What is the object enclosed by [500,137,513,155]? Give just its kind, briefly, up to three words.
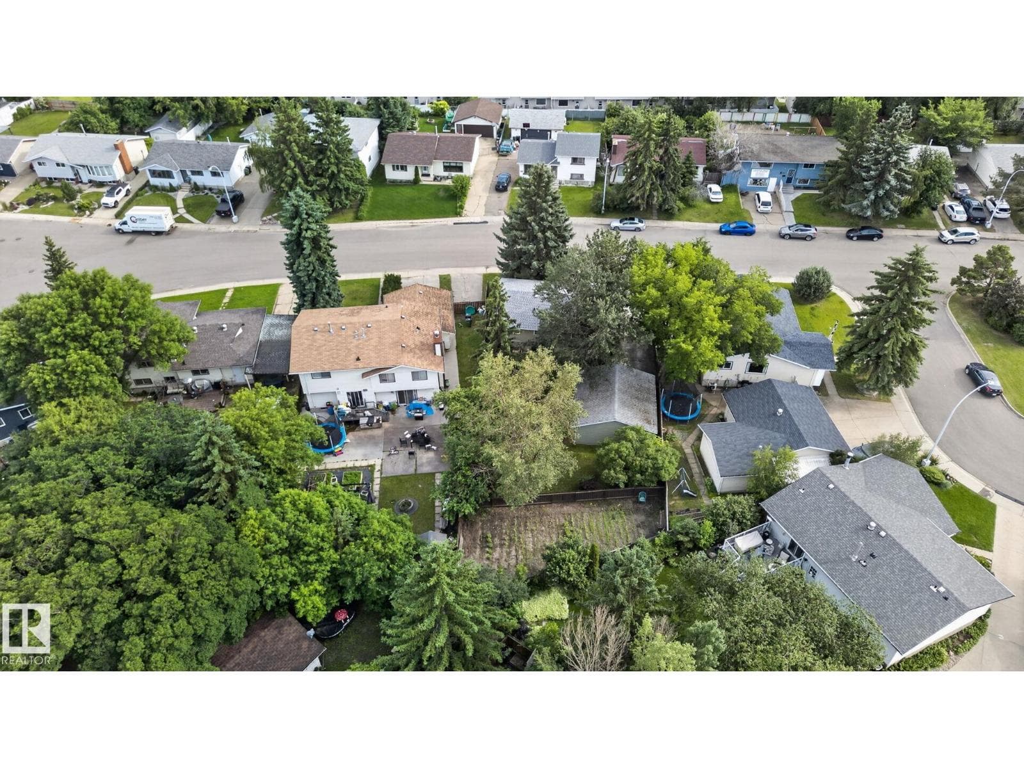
vehicle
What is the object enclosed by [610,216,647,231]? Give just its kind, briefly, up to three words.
car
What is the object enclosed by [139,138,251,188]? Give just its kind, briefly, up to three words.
house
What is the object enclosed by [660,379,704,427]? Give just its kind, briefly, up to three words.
trampoline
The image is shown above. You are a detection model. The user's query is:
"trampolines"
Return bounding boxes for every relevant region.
[660,379,704,427]
[318,606,365,656]
[303,412,350,461]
